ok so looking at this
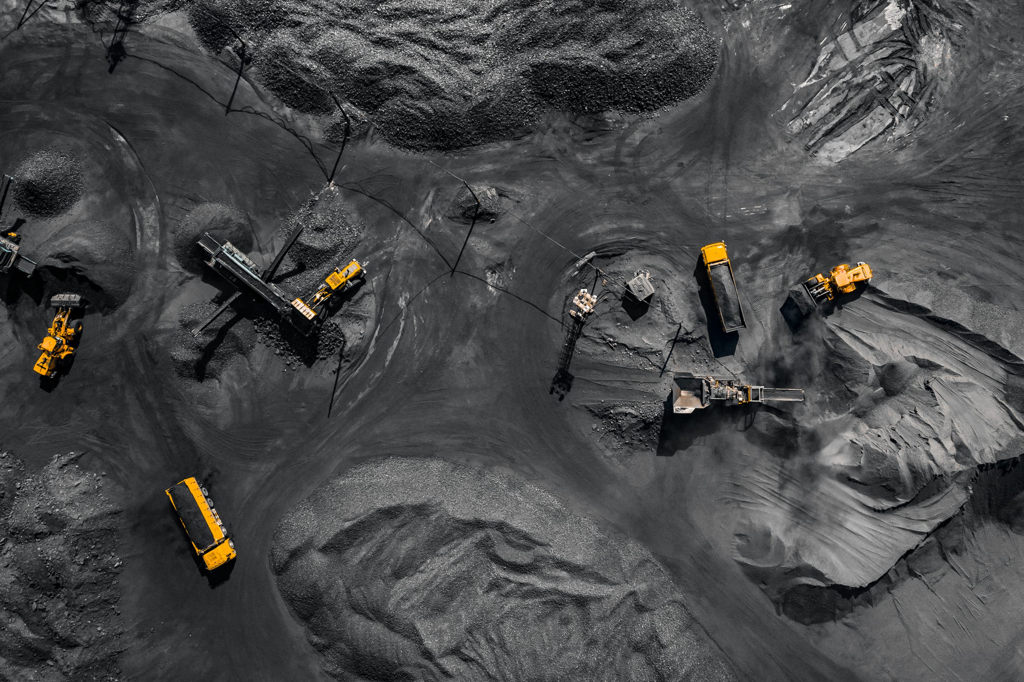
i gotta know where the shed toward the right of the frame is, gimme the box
[626,266,657,304]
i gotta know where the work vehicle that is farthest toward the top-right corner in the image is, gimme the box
[789,260,872,319]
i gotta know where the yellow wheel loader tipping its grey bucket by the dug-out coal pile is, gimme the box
[32,299,89,380]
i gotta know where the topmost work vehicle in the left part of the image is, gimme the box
[296,258,368,318]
